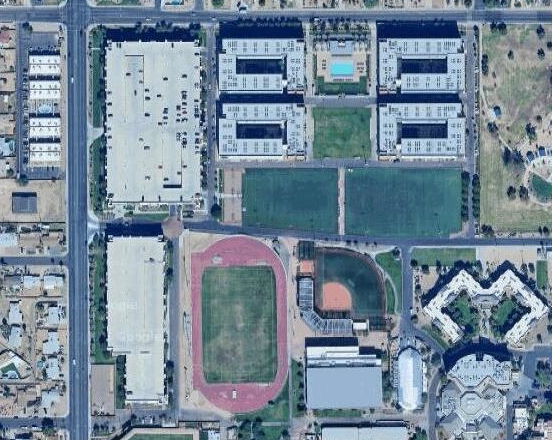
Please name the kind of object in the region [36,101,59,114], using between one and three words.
swimming pool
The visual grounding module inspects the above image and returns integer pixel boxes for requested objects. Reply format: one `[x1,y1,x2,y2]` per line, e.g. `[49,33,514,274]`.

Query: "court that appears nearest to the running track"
[225,197,242,220]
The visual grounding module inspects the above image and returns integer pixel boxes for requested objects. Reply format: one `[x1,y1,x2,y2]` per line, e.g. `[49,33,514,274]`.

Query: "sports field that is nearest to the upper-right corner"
[347,169,462,236]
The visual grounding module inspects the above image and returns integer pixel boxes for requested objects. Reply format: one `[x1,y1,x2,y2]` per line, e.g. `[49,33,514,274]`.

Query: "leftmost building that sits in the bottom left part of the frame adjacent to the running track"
[107,236,168,406]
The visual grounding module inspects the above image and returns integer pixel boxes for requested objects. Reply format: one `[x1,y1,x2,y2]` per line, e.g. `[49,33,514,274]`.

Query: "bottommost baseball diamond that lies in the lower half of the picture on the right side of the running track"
[316,247,386,327]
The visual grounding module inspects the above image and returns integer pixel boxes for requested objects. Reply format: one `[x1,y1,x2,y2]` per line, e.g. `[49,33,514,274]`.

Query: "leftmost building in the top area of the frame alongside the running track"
[107,40,201,208]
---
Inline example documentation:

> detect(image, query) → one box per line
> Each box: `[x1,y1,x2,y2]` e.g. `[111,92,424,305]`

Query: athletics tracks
[191,235,289,414]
